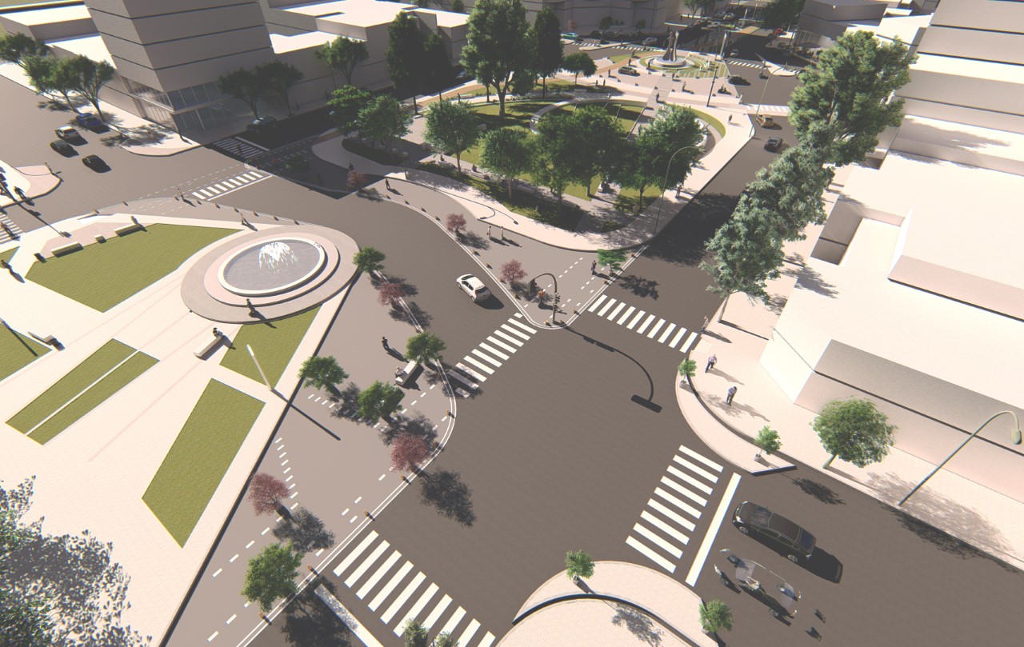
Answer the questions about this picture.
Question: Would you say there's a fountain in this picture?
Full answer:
Yes, looking at the shot, I can spot a fountain.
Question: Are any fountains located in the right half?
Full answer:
No, no fountain appears in the right half.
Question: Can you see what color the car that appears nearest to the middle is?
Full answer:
The car that appears nearest to the middle looks white in the image.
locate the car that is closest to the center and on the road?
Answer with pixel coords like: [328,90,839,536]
[454,273,492,300]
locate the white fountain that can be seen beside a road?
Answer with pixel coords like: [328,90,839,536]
[179,224,361,324]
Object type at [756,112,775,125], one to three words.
vehicle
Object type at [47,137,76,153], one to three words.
car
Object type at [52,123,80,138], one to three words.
car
